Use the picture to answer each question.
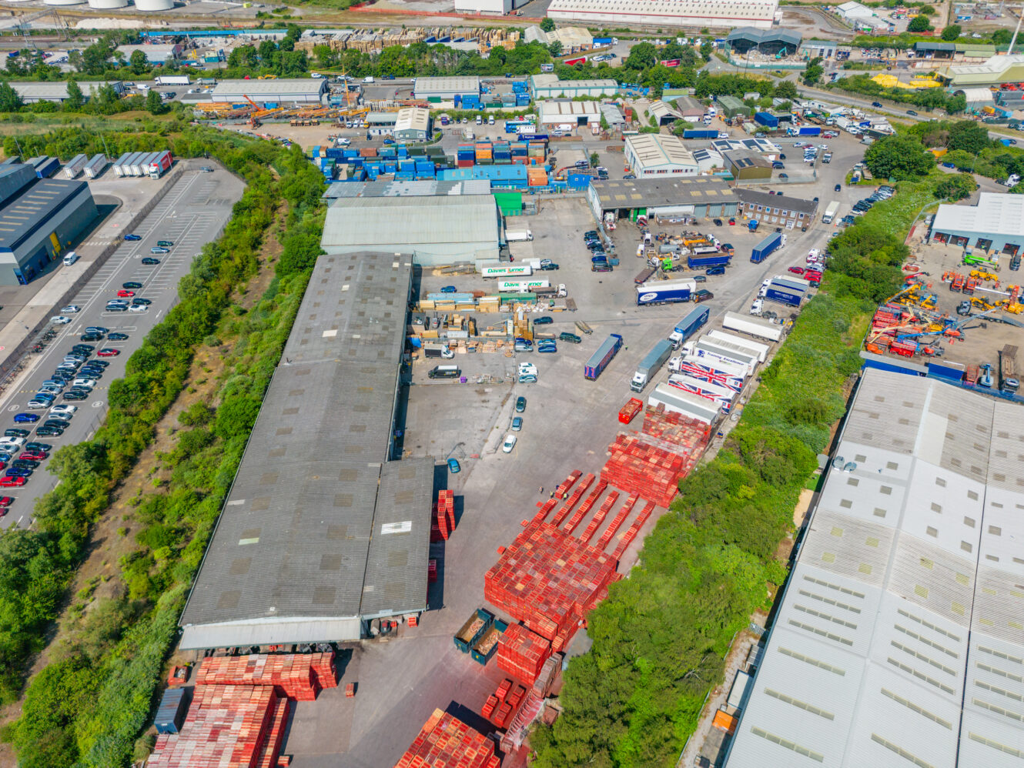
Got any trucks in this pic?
Yes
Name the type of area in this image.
industrial area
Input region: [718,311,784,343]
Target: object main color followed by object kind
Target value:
white trailer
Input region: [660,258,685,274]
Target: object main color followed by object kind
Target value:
green vehicle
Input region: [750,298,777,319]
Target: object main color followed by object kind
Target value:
white truck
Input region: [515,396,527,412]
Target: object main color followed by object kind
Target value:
blue vehicle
